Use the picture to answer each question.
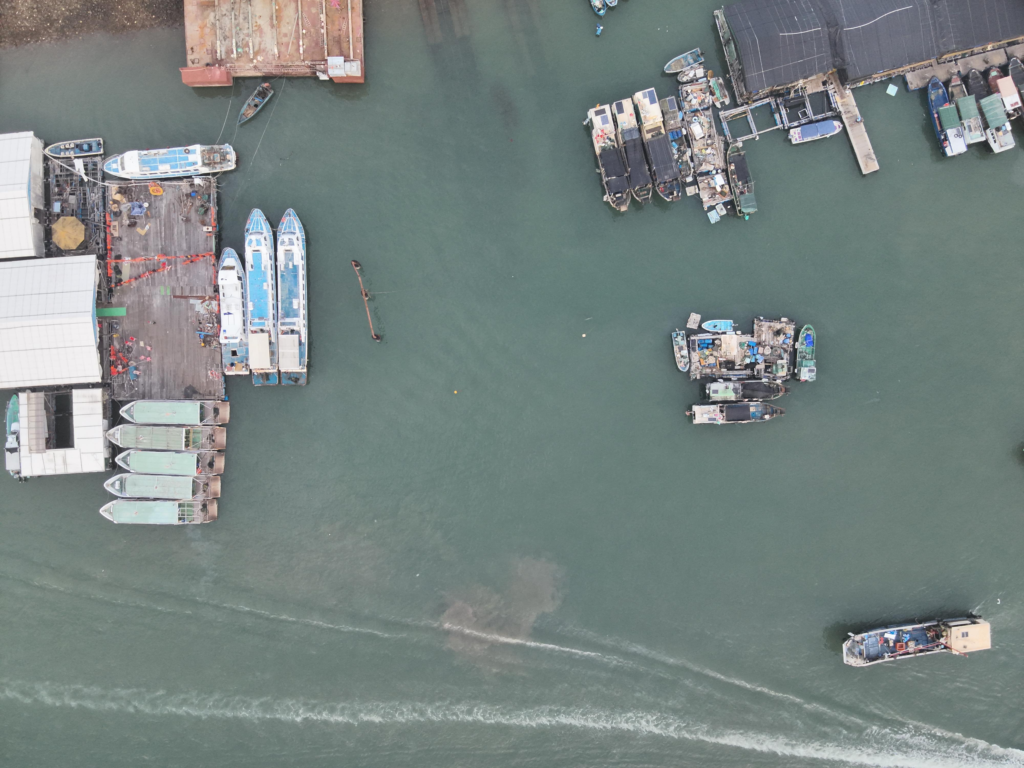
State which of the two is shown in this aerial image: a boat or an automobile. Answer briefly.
boat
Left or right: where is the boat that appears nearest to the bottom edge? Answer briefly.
right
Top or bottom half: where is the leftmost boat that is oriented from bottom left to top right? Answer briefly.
top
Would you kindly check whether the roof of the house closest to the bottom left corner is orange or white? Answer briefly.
white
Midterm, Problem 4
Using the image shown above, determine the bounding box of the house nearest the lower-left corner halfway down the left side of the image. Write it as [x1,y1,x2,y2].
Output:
[18,388,117,476]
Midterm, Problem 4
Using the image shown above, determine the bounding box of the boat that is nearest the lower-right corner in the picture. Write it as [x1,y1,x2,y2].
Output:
[840,612,991,667]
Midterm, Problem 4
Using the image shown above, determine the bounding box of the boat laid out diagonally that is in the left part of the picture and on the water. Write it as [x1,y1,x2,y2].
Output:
[237,82,274,124]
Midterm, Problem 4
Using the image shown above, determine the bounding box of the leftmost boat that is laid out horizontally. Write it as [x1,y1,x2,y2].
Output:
[46,137,104,157]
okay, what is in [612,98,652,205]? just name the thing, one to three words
boat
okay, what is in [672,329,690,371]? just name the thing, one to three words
boat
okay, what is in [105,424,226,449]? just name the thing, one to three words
ship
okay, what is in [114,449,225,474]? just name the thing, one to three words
ship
